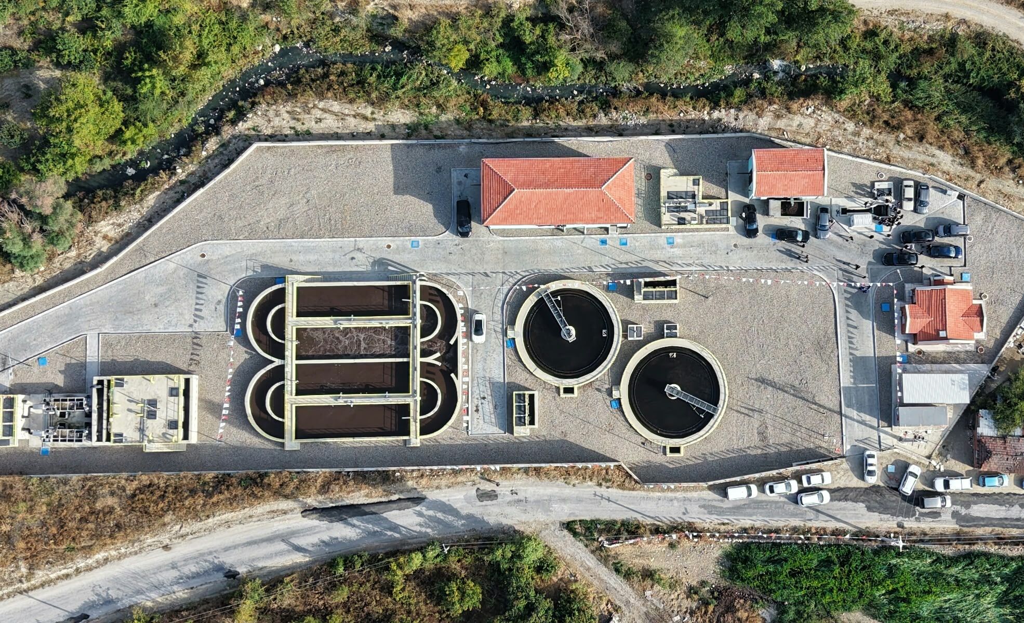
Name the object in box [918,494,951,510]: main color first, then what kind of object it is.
white vehicle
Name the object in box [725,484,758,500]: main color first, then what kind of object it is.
white vehicle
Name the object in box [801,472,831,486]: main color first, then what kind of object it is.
white car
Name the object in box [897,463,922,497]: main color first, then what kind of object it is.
white car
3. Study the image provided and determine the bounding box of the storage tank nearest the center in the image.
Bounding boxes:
[508,280,622,397]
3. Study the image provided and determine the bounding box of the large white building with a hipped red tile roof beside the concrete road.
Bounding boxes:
[481,156,635,236]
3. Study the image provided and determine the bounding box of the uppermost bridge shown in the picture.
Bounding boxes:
[536,286,575,340]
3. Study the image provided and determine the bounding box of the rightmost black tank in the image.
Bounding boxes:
[612,339,728,456]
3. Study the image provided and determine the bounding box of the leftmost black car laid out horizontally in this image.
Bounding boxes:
[775,228,810,243]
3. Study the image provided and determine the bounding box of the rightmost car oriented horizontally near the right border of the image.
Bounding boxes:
[978,473,1008,488]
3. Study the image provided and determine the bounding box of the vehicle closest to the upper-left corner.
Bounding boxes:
[456,199,472,237]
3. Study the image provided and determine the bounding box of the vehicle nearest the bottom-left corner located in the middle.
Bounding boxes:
[470,312,486,343]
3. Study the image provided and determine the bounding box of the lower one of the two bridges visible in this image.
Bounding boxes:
[665,386,726,417]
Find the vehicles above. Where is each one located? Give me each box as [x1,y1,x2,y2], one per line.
[978,473,1008,488]
[764,480,798,496]
[900,228,935,244]
[914,182,932,214]
[456,199,472,237]
[918,494,951,510]
[801,472,831,486]
[934,222,970,238]
[775,228,810,243]
[862,451,879,483]
[742,204,760,239]
[897,463,922,497]
[928,244,962,259]
[932,476,972,492]
[470,312,486,343]
[900,181,916,211]
[725,484,758,500]
[797,490,830,507]
[815,206,832,239]
[882,251,918,266]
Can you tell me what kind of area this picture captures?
industrial area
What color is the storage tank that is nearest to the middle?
black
